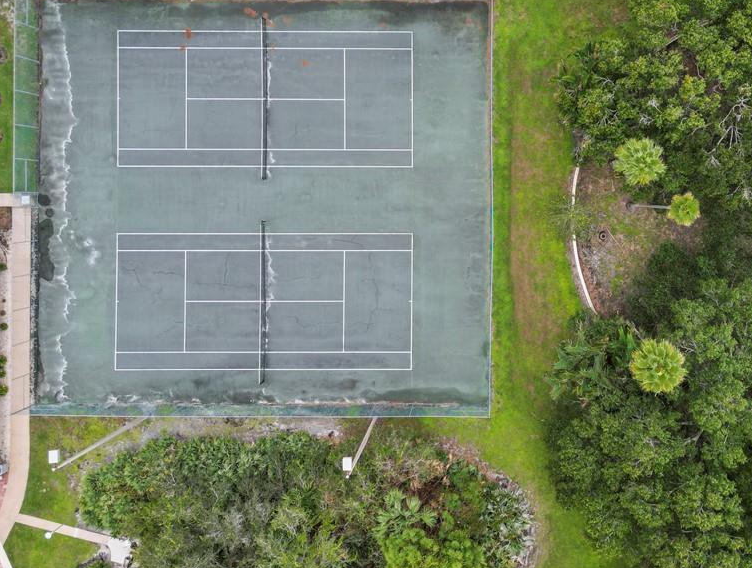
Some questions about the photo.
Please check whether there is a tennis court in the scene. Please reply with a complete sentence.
Yes, a tennis court appears in the view.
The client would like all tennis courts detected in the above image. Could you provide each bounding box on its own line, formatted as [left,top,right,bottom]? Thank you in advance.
[115,234,412,371]
[117,31,412,167]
